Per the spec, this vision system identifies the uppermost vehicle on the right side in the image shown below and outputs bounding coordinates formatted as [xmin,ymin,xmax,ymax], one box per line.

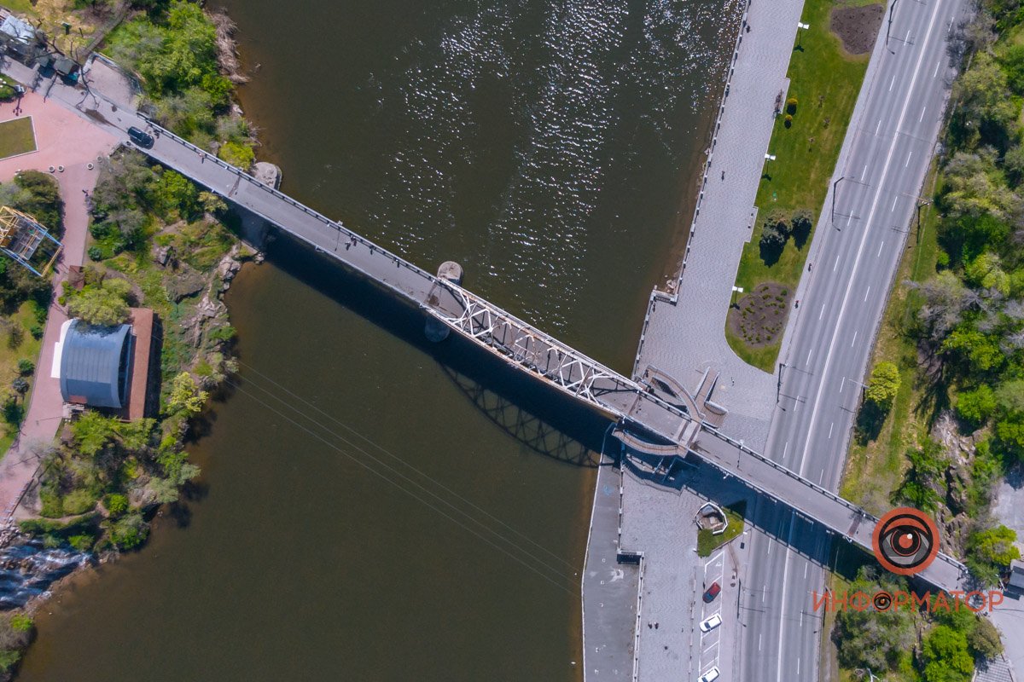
[702,580,722,602]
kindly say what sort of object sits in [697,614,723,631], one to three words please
car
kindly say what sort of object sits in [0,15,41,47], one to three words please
building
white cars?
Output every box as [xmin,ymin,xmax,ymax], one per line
[696,665,720,682]
[697,614,723,631]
